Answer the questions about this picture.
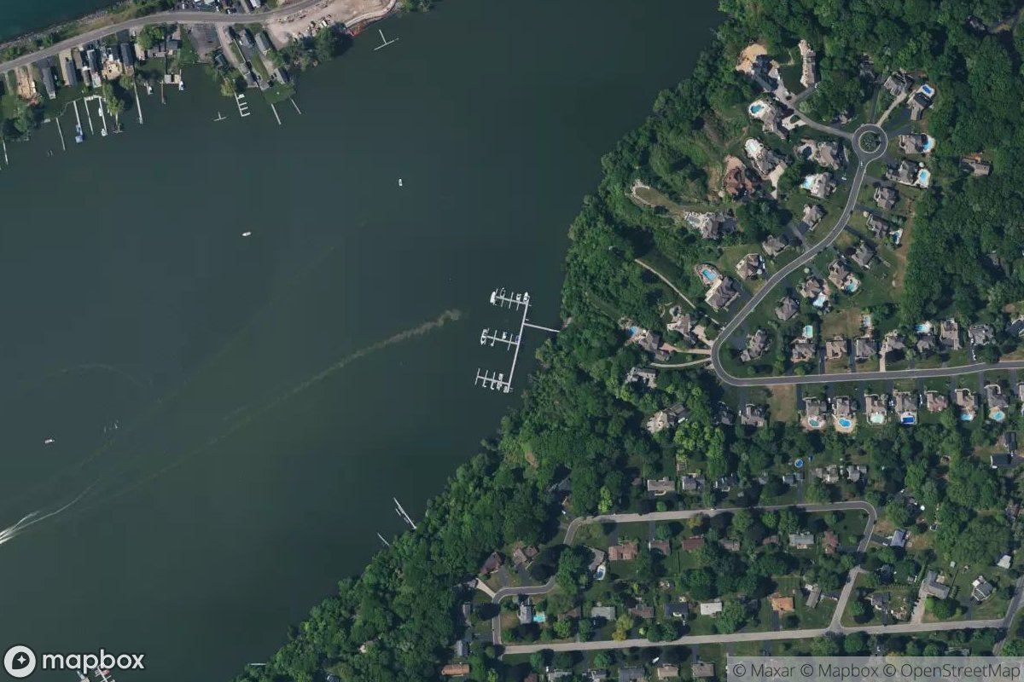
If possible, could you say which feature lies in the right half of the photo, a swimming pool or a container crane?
swimming pool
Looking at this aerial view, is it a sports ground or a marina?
marina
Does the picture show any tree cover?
Yes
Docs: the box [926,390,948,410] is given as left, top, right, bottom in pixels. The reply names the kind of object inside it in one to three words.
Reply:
house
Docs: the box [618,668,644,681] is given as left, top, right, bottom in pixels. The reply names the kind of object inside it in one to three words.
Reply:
house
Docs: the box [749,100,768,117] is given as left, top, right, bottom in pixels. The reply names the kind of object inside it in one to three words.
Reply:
swimming pool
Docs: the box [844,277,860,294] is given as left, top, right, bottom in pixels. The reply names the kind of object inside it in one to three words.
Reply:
swimming pool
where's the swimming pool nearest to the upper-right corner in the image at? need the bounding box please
[919,81,937,98]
